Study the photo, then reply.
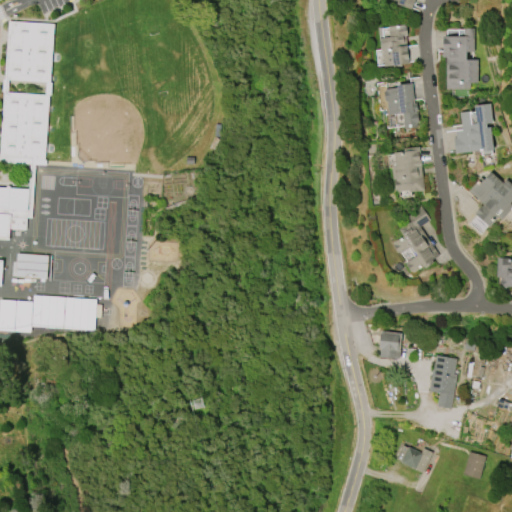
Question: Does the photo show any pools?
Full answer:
No, I can see no pool in this picture.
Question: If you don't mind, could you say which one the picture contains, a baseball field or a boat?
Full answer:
This aerial view contains a baseball field.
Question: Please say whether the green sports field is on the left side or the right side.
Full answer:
It is on the left.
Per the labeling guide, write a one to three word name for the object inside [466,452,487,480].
barn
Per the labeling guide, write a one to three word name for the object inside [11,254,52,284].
building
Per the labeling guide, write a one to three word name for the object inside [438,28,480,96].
house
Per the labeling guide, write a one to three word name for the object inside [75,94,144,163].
baseball field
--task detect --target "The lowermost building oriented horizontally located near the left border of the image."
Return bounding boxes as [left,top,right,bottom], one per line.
[0,294,97,334]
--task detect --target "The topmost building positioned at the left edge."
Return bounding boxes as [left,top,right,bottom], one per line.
[0,20,56,166]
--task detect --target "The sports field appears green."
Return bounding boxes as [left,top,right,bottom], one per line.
[48,0,223,172]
